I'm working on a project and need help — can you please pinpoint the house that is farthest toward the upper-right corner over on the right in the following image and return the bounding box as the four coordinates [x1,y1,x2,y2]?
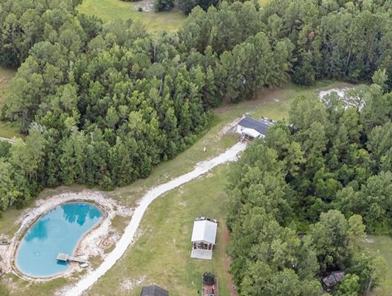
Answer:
[239,118,277,142]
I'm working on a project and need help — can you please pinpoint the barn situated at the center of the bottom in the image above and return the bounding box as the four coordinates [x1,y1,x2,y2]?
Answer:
[190,219,220,260]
